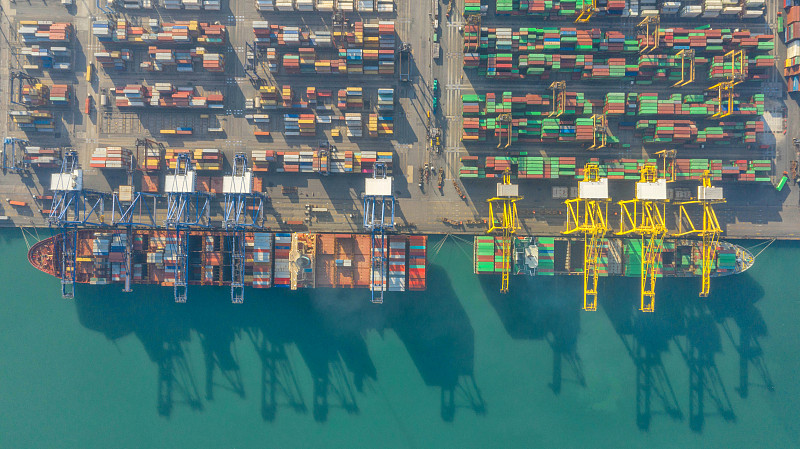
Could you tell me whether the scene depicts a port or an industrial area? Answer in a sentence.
The picture captures a port.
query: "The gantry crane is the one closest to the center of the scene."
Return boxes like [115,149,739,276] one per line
[362,160,399,304]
